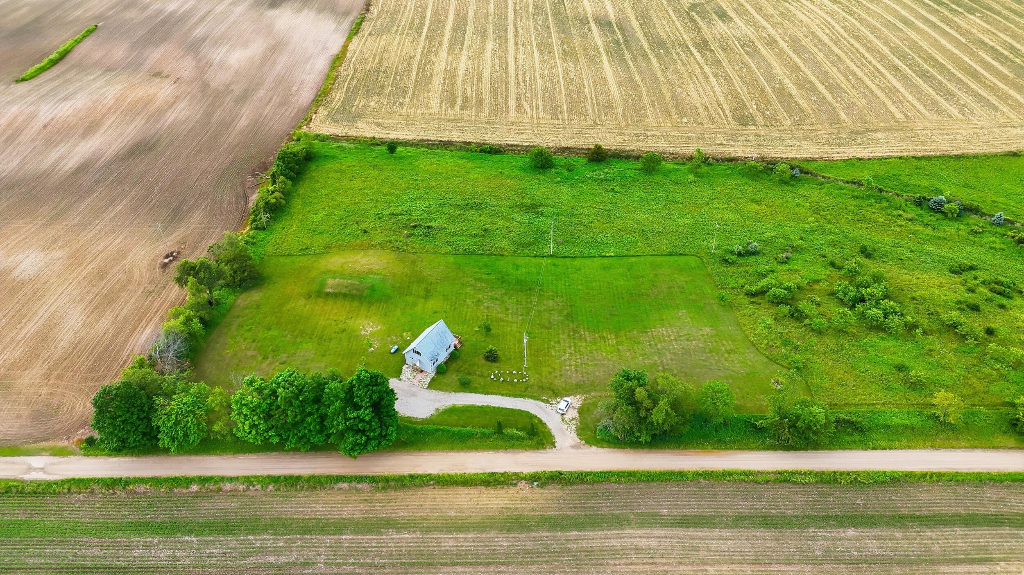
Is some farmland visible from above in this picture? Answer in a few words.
Yes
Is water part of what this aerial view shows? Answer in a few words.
No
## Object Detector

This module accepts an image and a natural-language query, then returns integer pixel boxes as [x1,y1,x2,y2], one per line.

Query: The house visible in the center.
[401,321,463,375]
